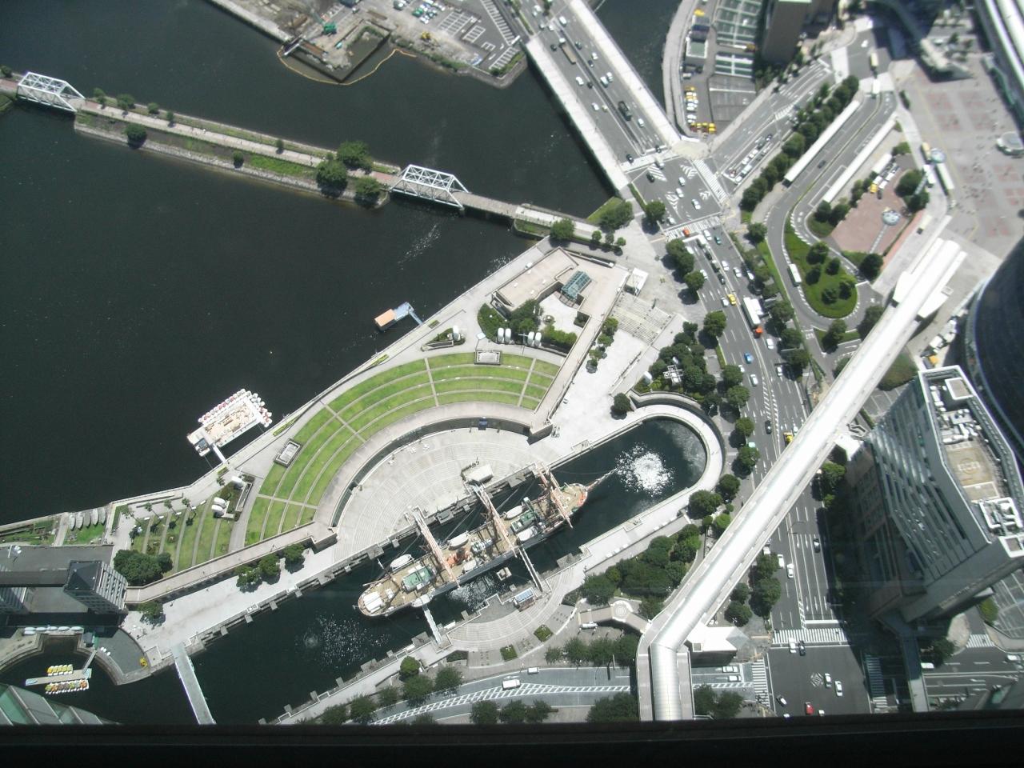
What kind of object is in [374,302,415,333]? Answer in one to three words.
pier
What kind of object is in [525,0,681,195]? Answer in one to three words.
bridge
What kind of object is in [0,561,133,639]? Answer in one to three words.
building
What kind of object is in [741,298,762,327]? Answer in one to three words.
bus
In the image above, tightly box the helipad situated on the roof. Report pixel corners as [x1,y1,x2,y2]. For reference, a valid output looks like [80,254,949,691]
[943,445,997,506]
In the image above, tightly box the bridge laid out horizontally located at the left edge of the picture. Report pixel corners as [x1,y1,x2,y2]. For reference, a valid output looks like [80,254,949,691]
[12,75,86,114]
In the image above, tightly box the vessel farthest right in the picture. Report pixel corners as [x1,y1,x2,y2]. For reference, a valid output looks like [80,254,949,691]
[353,459,616,614]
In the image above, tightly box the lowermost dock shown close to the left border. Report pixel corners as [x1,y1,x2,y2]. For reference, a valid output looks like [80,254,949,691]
[25,655,95,686]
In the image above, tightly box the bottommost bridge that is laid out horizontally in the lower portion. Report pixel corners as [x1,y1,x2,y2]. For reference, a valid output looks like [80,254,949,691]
[577,599,648,635]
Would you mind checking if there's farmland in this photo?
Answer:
No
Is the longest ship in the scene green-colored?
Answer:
No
